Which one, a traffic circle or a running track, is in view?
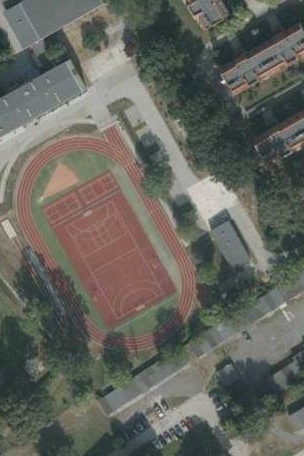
running track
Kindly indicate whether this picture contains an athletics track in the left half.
Yes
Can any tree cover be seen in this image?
Yes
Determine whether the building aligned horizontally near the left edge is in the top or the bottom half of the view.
top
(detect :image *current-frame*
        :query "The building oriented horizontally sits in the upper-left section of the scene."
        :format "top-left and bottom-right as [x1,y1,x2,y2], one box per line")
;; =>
[4,0,106,51]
